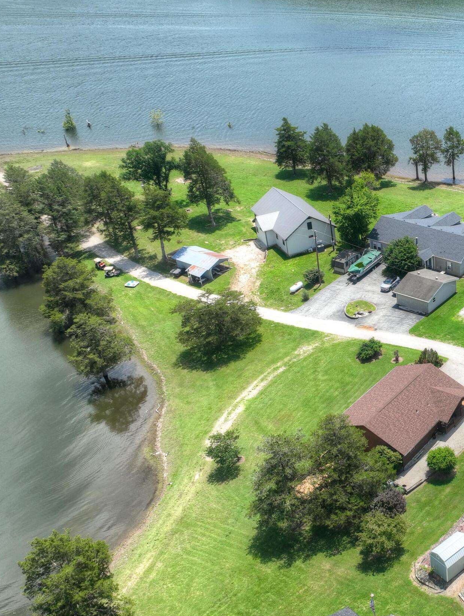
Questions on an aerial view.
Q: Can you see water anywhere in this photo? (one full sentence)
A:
Yes, there is water in the image.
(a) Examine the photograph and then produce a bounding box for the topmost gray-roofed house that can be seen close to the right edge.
[367,204,464,276]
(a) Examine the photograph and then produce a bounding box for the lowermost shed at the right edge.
[430,533,464,582]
